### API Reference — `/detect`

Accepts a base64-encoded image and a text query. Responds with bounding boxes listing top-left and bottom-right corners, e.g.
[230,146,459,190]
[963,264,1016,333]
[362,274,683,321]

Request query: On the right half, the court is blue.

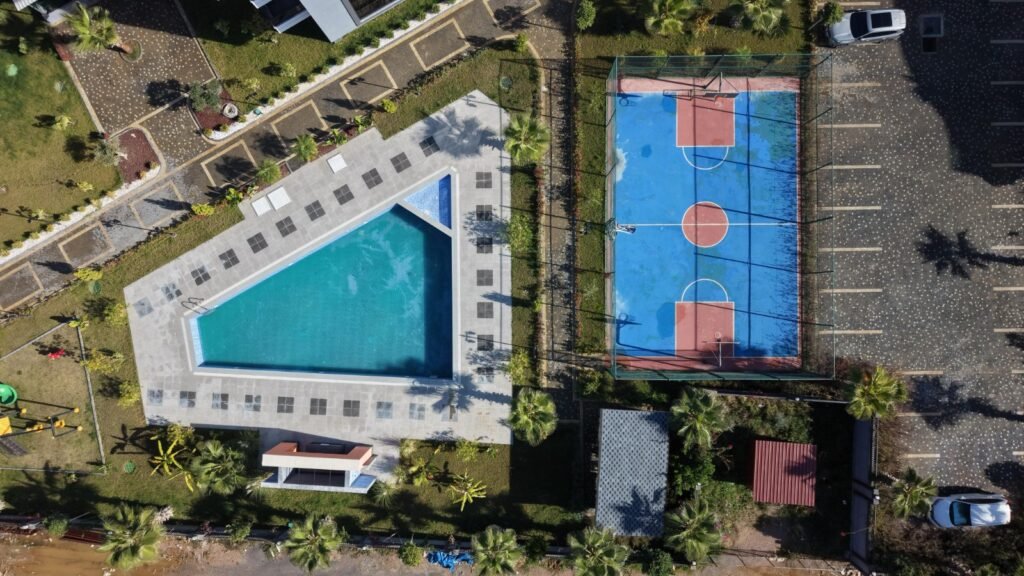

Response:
[609,78,802,370]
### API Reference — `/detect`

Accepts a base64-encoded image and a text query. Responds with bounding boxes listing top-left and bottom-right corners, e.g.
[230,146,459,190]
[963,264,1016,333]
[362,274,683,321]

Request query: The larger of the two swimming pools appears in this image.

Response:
[180,167,458,388]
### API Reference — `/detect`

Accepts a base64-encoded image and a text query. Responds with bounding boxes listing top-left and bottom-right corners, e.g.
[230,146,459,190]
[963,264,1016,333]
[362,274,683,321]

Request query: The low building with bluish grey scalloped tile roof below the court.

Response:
[593,403,668,538]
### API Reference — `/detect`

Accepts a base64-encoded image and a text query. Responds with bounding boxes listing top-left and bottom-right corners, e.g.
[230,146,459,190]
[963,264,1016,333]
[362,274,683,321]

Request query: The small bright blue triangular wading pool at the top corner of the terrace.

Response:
[405,175,450,228]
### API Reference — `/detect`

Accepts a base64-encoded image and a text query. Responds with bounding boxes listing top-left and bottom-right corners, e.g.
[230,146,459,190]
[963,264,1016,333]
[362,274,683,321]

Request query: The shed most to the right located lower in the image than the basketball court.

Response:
[746,437,816,506]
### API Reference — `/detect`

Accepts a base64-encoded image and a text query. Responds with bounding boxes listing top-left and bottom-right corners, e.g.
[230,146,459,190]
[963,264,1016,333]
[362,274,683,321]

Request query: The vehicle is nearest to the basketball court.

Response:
[825,7,904,46]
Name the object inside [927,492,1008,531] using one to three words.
car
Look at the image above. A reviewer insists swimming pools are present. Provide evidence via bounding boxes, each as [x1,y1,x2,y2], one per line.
[405,175,450,228]
[180,167,458,388]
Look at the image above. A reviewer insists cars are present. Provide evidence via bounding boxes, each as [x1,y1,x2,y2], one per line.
[927,492,1008,531]
[825,7,904,46]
